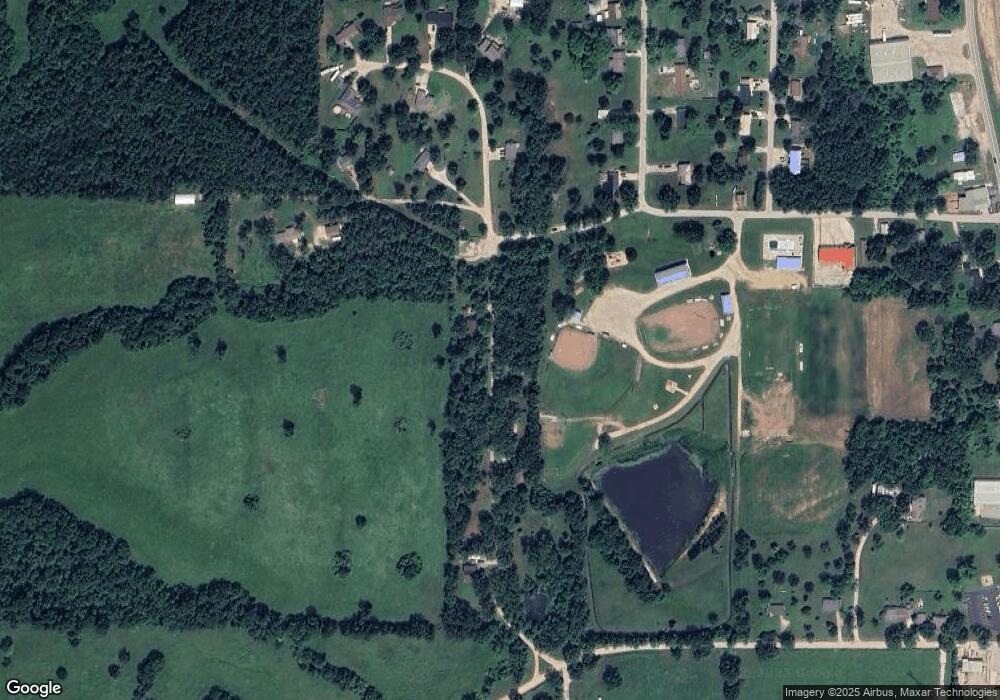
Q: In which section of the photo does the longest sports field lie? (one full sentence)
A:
The longest sports field appears toward the right of the photo.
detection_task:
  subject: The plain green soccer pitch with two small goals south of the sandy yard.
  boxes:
[744,299,799,374]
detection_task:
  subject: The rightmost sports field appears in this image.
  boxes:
[787,288,868,445]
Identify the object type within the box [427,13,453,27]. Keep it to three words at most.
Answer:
house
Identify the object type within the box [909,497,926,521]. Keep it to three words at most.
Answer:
house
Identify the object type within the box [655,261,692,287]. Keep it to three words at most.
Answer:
building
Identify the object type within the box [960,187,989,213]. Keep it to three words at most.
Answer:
building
